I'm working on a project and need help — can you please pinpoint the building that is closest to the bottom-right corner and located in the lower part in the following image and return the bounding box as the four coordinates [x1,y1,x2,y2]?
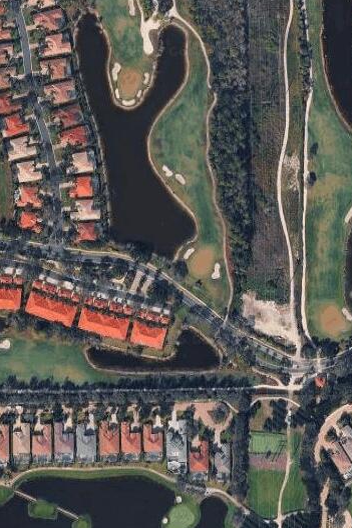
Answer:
[331,441,352,478]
